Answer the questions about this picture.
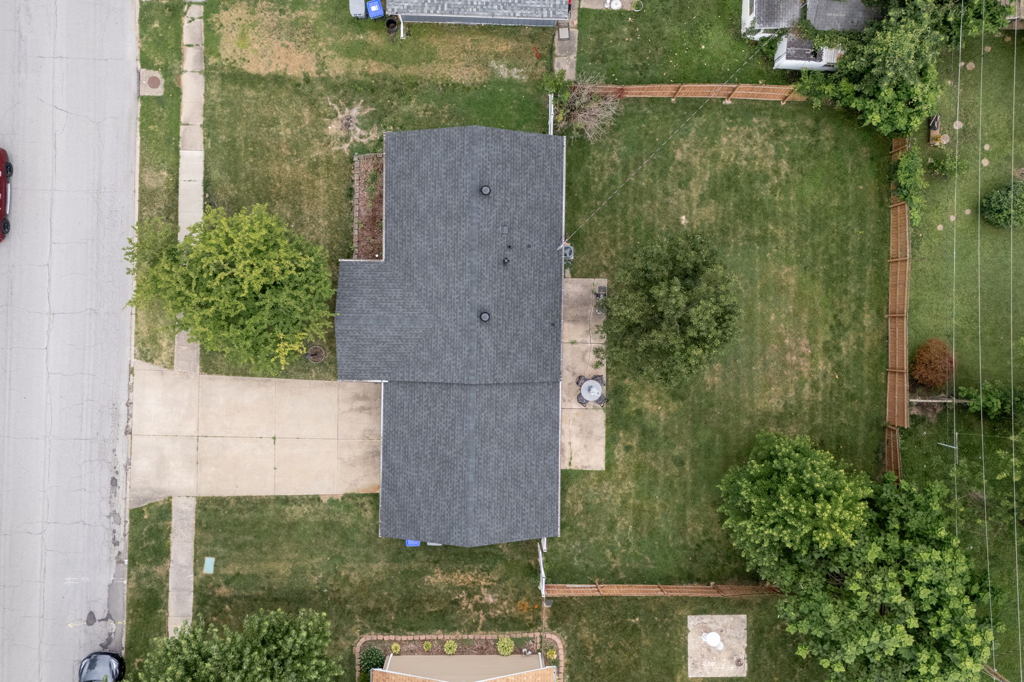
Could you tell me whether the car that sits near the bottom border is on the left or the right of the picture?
left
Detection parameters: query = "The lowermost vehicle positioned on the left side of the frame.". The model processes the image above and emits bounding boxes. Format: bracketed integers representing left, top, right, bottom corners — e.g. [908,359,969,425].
[79,653,125,682]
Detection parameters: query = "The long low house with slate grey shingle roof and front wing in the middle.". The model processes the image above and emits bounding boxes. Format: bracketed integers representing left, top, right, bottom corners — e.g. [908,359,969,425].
[335,125,567,547]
